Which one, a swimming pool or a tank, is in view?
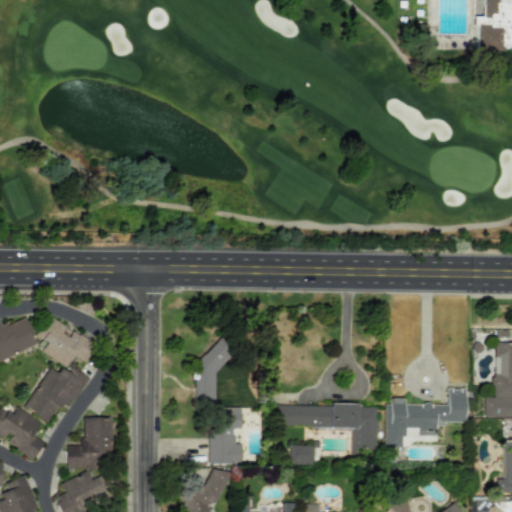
swimming pool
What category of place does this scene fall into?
golf course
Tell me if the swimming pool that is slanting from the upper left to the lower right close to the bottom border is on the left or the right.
right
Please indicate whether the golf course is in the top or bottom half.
top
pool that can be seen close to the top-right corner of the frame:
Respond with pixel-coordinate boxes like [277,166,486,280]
[439,0,467,35]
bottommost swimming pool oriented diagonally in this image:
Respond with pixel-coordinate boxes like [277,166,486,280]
[422,483,447,502]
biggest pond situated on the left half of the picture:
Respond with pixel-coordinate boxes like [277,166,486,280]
[40,80,246,180]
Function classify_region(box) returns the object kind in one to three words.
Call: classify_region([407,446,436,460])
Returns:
swimming pool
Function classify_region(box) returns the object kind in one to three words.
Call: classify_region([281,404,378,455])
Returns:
house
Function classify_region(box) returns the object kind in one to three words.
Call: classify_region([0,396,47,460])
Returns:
house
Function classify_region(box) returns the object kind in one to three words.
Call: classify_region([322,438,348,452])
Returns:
swimming pool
